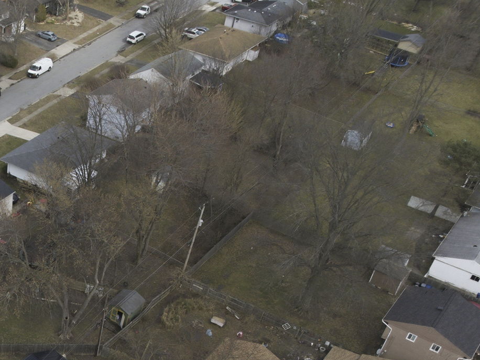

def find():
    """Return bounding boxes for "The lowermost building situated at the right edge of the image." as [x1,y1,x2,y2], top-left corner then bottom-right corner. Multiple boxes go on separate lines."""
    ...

[373,288,480,360]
